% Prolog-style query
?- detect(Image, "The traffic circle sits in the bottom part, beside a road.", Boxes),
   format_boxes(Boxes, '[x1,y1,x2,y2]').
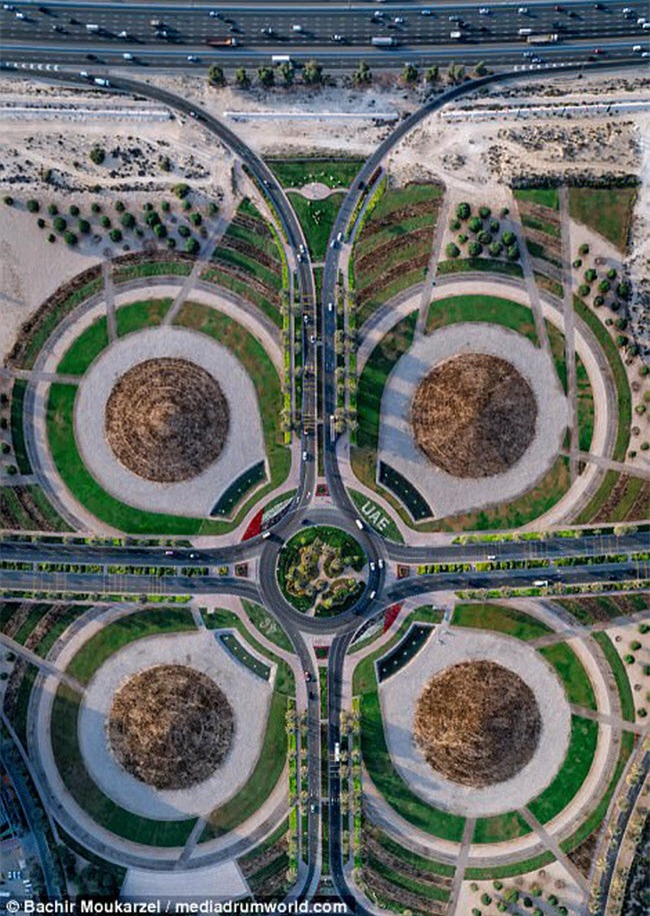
[205,455,445,691]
